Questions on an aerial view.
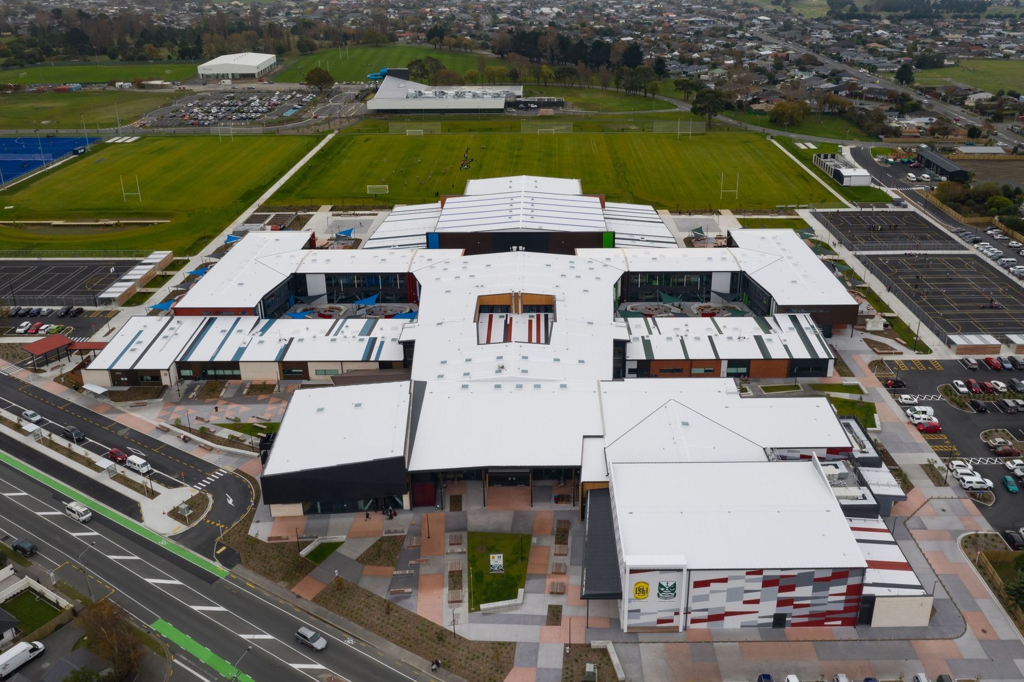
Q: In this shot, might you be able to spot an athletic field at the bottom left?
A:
No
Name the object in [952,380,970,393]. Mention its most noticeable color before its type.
white vehicle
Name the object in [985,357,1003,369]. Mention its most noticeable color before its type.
red vehicle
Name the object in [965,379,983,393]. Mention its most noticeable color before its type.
red car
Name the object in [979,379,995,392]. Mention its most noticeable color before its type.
red vehicle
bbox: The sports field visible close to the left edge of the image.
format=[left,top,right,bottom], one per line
[0,134,326,218]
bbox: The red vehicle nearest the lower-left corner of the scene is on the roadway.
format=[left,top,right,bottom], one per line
[106,446,127,462]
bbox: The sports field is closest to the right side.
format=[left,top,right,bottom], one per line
[268,132,843,209]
